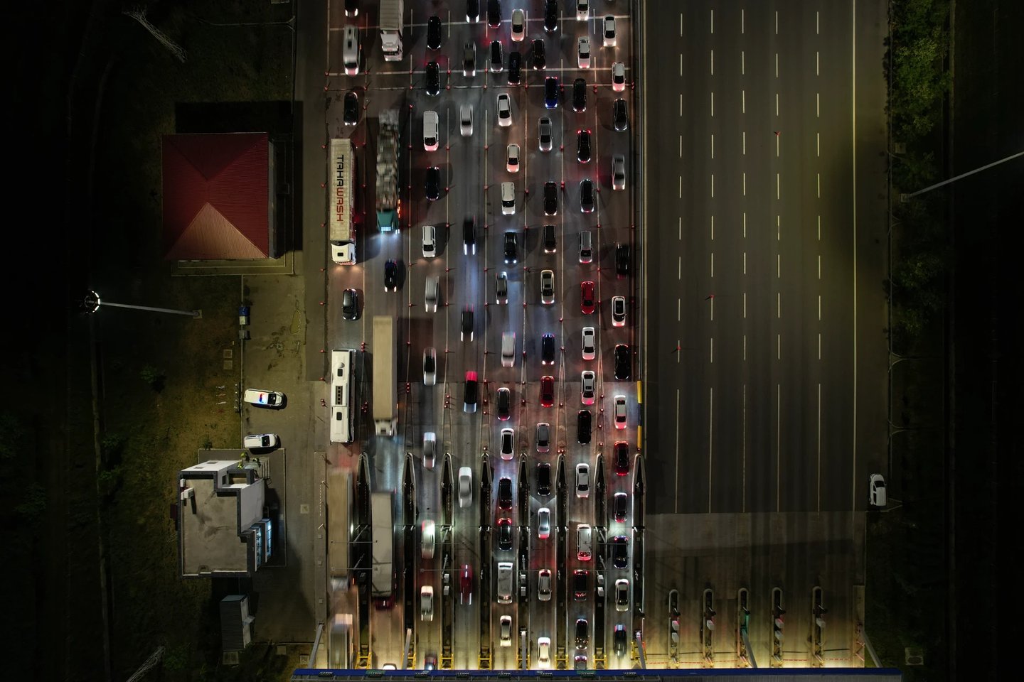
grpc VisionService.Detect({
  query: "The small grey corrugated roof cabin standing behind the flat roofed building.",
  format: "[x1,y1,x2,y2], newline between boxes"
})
[220,594,259,656]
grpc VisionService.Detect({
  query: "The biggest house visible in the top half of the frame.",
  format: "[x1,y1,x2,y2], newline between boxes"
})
[161,132,275,260]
